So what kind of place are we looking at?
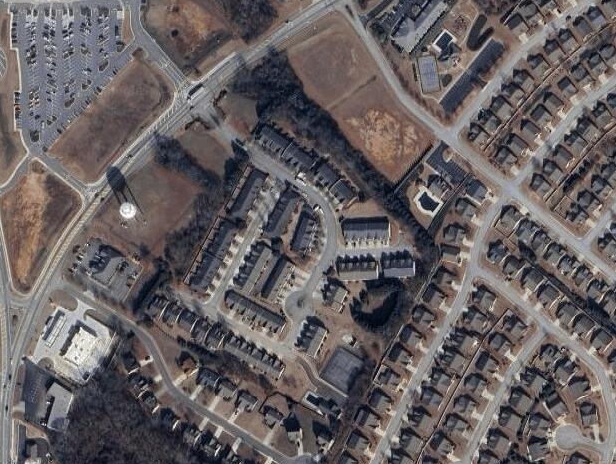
residential area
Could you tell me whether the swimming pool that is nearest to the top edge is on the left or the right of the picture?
right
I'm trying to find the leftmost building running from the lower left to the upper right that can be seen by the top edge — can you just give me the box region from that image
[385,0,449,55]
